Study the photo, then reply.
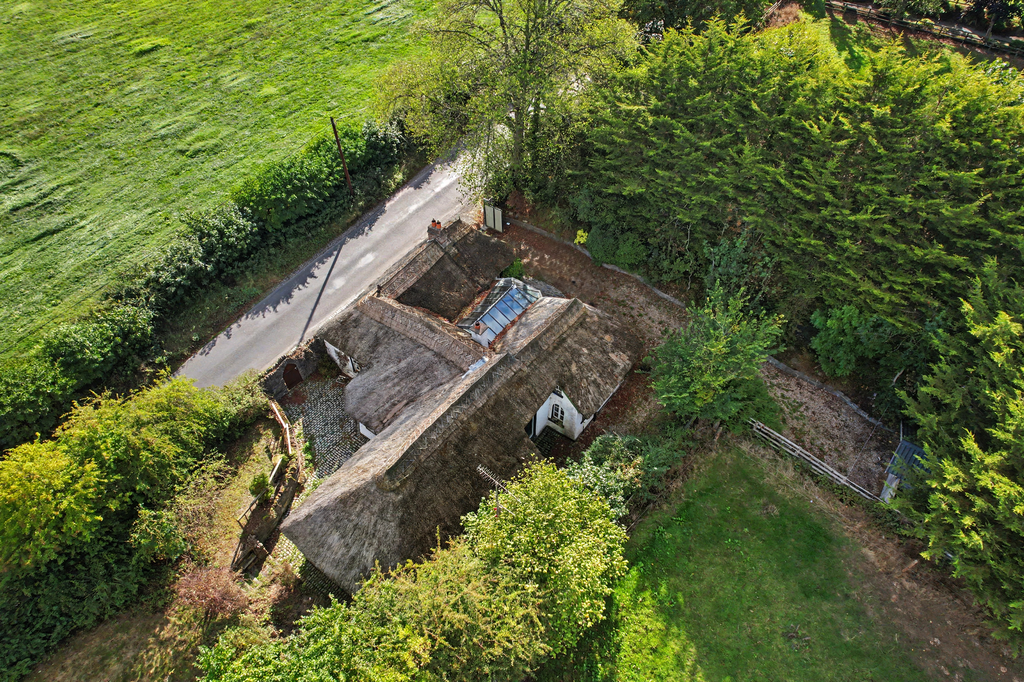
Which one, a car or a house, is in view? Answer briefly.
house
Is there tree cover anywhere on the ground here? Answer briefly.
Yes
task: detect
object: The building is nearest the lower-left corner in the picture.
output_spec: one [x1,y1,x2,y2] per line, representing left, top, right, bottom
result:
[280,199,643,640]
